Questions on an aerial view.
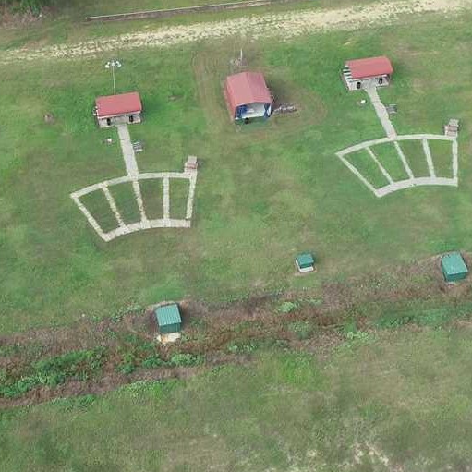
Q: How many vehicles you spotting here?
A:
0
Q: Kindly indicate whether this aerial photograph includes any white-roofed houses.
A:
No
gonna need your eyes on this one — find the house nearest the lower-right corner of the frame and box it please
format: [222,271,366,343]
[438,251,467,278]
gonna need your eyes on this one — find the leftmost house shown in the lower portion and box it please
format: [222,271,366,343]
[156,302,181,331]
